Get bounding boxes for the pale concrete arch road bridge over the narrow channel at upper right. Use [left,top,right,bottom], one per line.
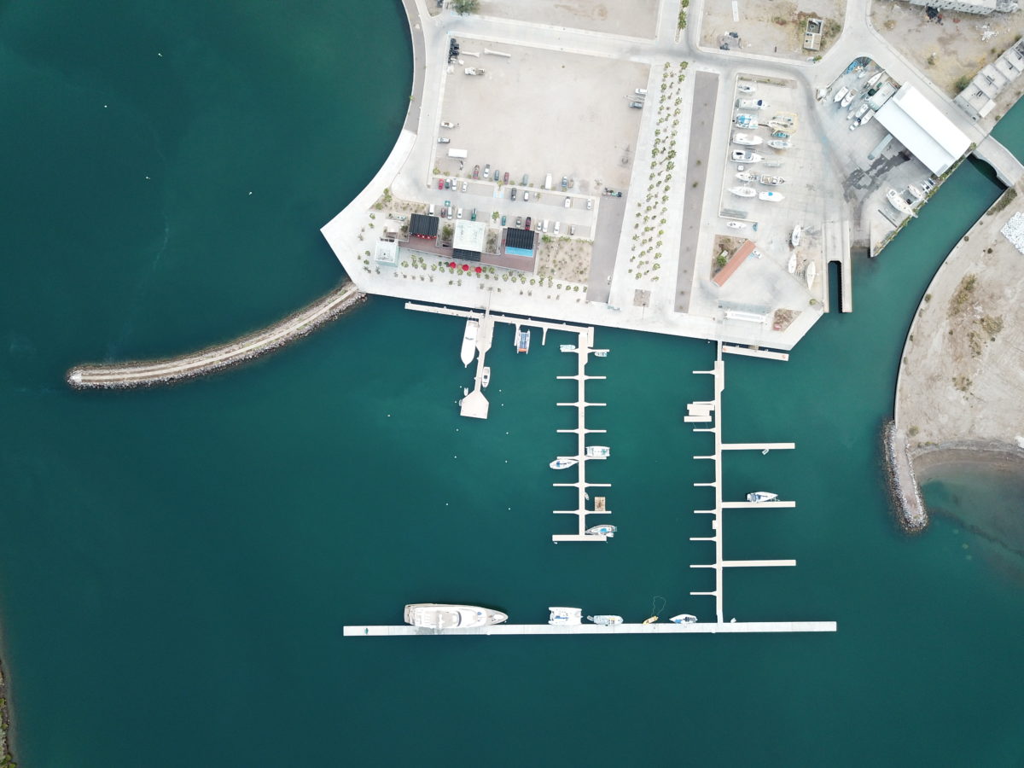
[968,134,1024,189]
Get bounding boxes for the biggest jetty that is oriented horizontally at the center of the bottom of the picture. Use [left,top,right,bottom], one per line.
[344,621,836,636]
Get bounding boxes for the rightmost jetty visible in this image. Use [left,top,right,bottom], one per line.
[883,422,929,530]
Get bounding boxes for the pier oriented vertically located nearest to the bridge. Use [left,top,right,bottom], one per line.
[822,205,852,313]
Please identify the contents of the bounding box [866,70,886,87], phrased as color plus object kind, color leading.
white boat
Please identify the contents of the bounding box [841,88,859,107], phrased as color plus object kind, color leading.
white boat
